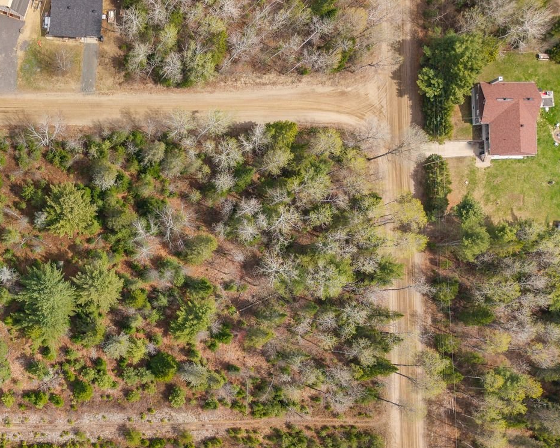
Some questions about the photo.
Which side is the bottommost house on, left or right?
right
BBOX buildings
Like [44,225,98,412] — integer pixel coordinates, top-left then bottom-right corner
[470,78,543,158]
[48,0,104,42]
[0,0,30,21]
